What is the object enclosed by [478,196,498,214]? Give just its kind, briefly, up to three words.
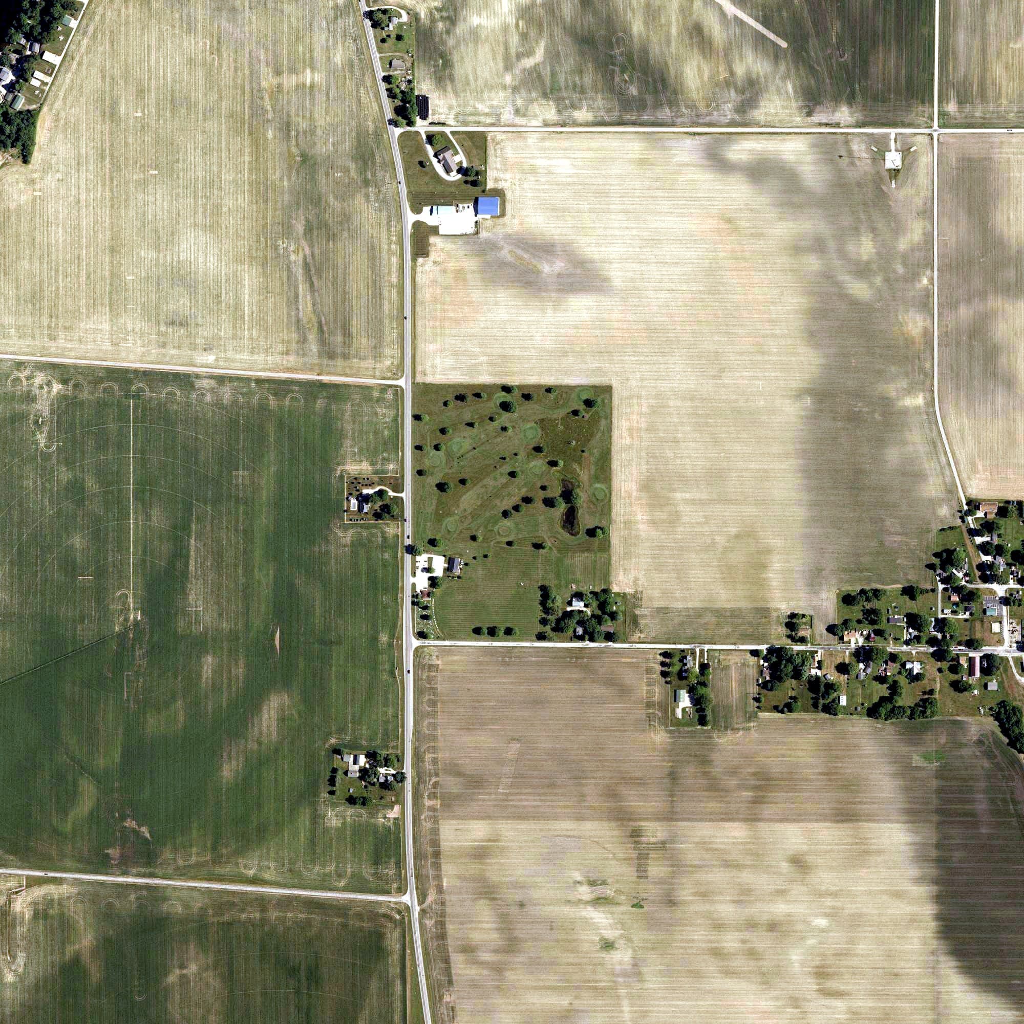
building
